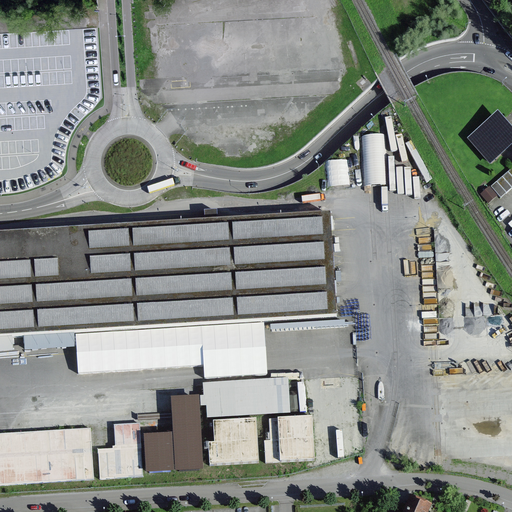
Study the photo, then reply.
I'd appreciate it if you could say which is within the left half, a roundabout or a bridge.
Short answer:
roundabout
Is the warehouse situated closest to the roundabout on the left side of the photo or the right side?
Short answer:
left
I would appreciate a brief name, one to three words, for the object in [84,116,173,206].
roundabout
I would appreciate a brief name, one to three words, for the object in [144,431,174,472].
building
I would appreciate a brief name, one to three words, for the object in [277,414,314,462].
building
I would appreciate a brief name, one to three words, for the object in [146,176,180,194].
vehicle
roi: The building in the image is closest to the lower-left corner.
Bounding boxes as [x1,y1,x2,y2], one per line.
[0,428,94,485]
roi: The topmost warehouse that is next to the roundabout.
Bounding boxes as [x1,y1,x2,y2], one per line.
[0,208,337,336]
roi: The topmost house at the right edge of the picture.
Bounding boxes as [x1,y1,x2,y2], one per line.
[466,108,512,164]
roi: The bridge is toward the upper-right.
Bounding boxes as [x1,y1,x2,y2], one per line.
[374,56,418,118]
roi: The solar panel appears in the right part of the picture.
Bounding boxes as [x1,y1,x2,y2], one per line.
[468,110,512,162]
